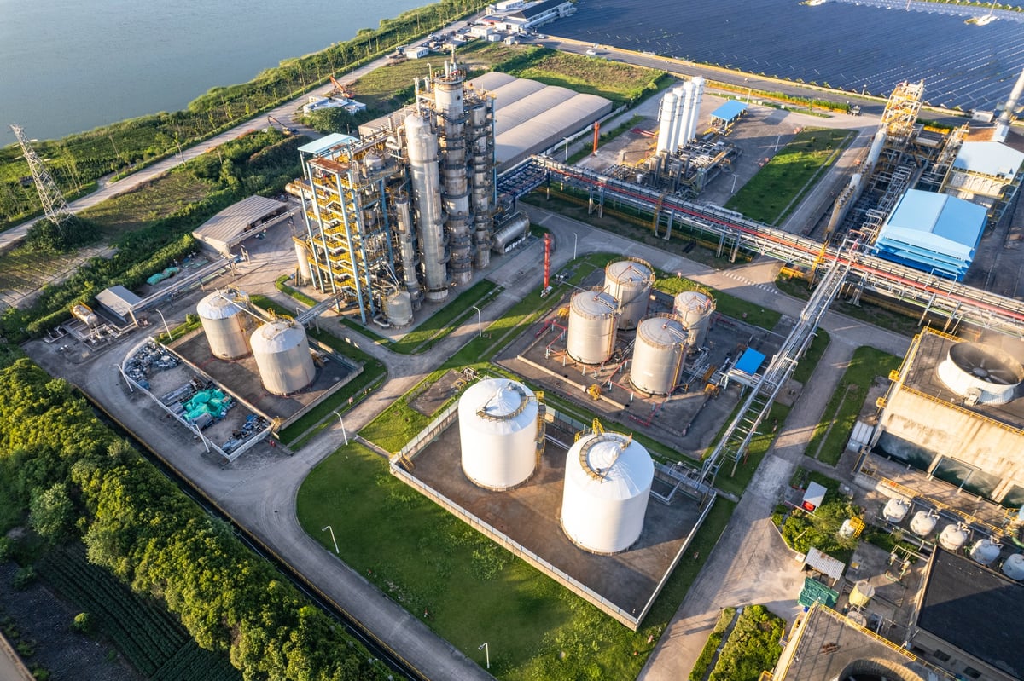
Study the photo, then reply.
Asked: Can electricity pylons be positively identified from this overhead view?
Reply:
Yes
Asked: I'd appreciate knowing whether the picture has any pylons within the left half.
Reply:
Yes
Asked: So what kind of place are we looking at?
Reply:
industrial area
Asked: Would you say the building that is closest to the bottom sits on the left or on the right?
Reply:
right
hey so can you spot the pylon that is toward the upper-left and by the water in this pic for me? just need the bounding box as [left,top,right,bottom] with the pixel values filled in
[6,120,78,228]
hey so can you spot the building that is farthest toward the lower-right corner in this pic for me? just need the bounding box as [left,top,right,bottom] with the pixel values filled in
[901,546,1024,681]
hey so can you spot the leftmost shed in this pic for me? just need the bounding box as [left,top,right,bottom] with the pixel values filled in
[96,284,151,320]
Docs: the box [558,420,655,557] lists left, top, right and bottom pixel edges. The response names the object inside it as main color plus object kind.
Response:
white storage tank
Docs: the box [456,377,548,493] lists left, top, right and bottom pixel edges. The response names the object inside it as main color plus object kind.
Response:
white storage tank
